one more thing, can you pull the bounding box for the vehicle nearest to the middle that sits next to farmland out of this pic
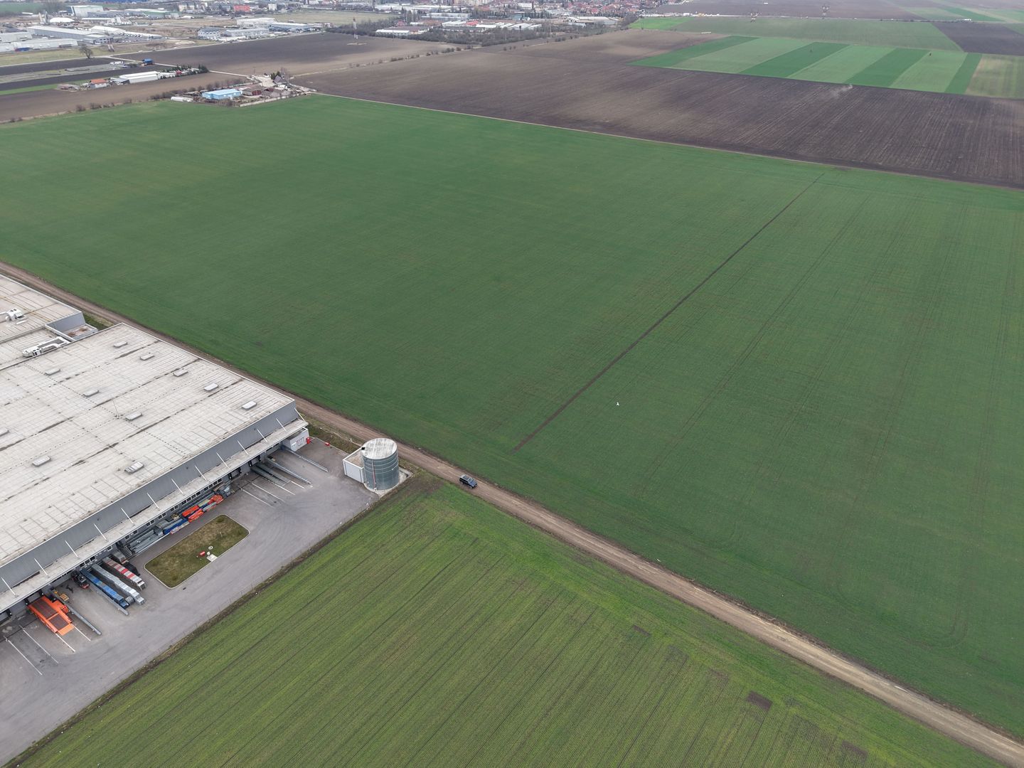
[456,474,475,488]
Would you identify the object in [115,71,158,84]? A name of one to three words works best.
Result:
barn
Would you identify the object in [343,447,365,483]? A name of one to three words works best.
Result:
building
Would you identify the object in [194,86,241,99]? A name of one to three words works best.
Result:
shed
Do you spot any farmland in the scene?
Yes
